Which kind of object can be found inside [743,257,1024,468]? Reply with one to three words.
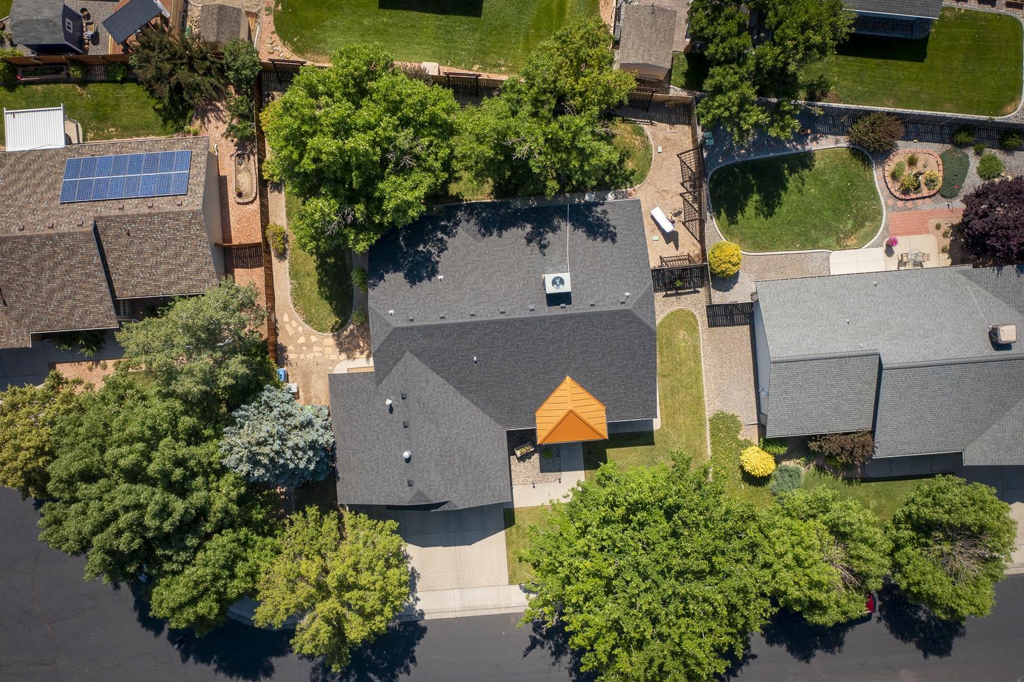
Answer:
house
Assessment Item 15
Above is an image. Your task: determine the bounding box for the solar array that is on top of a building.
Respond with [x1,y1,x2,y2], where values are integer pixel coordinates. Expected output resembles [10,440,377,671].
[60,149,191,201]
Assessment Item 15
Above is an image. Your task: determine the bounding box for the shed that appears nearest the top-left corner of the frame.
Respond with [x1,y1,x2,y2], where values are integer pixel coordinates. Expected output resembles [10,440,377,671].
[8,0,84,54]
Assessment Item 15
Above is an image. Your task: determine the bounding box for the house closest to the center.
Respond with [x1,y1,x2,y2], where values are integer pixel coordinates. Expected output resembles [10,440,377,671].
[328,198,657,510]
